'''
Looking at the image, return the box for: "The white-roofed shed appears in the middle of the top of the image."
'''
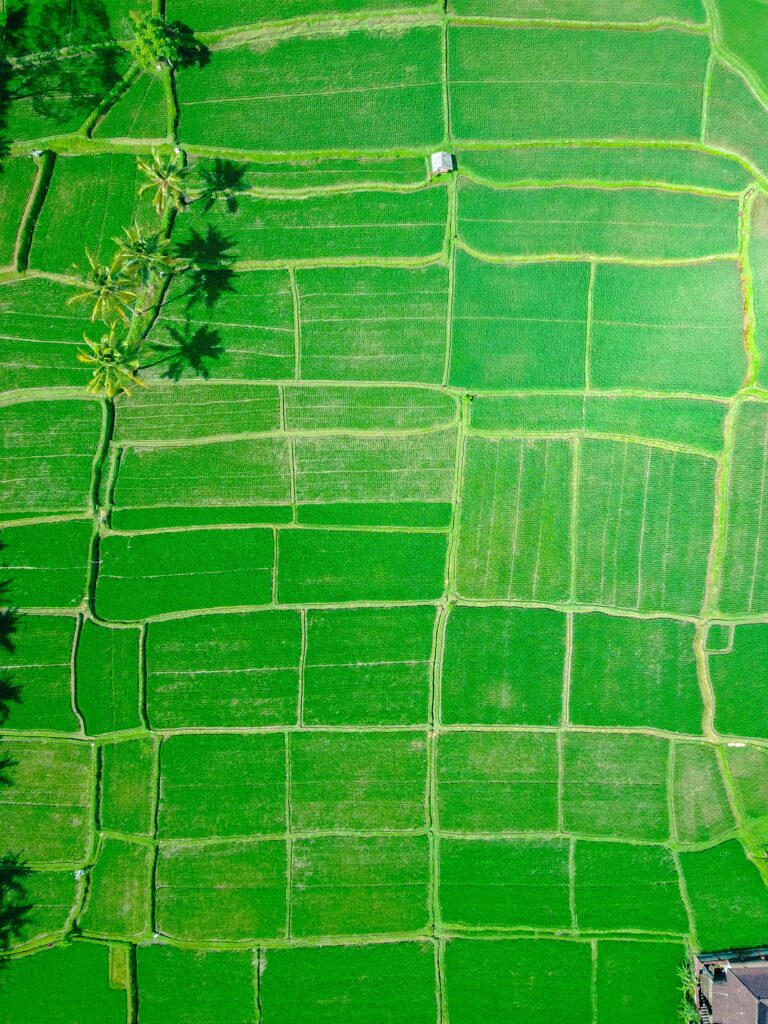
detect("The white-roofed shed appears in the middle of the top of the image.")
[432,152,452,177]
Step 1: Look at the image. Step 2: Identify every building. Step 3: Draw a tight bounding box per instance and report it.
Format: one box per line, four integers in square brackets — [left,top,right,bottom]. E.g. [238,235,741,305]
[701,960,768,1024]
[432,152,452,177]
